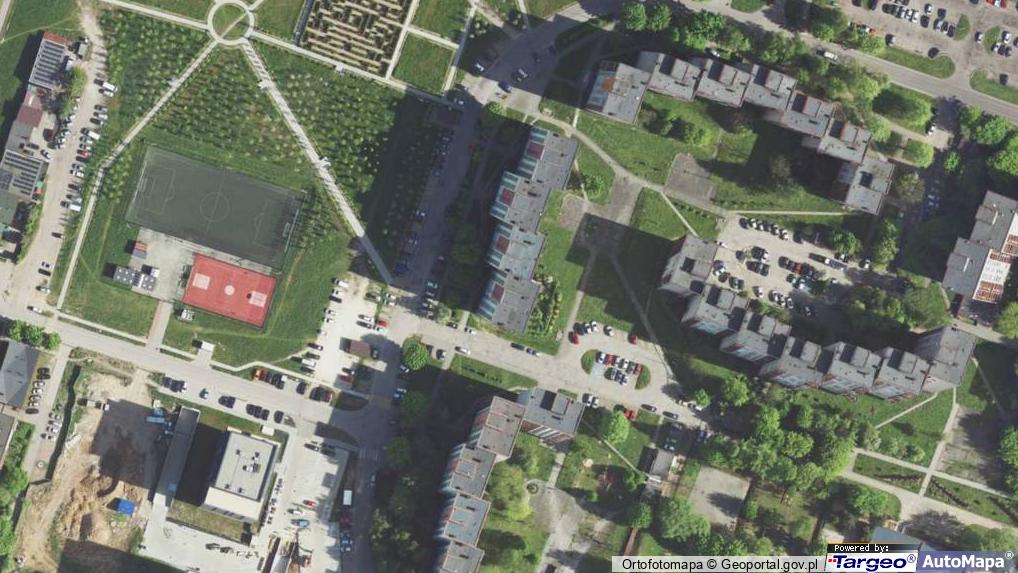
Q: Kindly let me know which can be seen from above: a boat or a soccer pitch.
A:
soccer pitch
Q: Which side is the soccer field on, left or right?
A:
left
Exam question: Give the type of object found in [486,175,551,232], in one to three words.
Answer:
building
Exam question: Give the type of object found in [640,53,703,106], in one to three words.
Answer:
building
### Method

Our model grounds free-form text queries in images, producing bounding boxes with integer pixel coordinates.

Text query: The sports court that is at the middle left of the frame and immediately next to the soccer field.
[181,253,280,327]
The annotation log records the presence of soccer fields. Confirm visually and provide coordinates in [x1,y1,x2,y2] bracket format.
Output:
[126,146,306,270]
